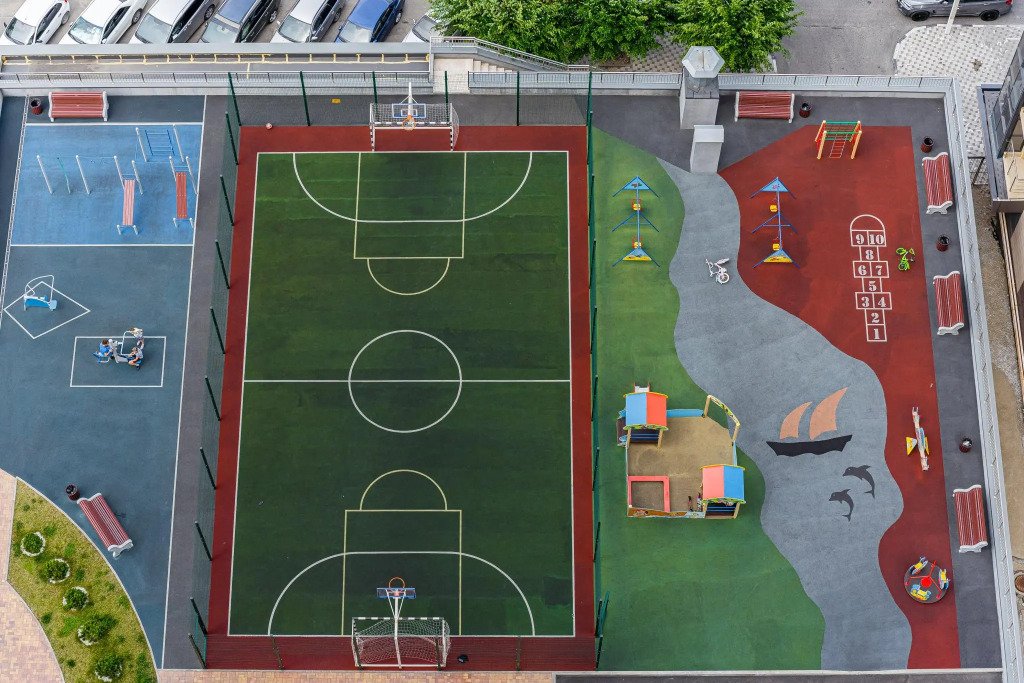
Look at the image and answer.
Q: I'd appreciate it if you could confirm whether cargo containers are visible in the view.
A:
No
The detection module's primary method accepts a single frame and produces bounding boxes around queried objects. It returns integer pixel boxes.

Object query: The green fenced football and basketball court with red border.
[205,125,597,670]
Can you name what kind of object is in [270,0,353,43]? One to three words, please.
car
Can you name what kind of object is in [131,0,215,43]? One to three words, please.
car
